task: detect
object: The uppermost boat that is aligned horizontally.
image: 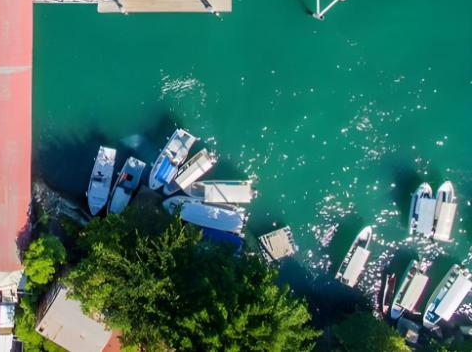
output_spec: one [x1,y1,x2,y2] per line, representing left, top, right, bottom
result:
[187,178,255,201]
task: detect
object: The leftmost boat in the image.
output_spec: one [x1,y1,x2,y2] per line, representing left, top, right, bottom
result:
[89,146,116,214]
